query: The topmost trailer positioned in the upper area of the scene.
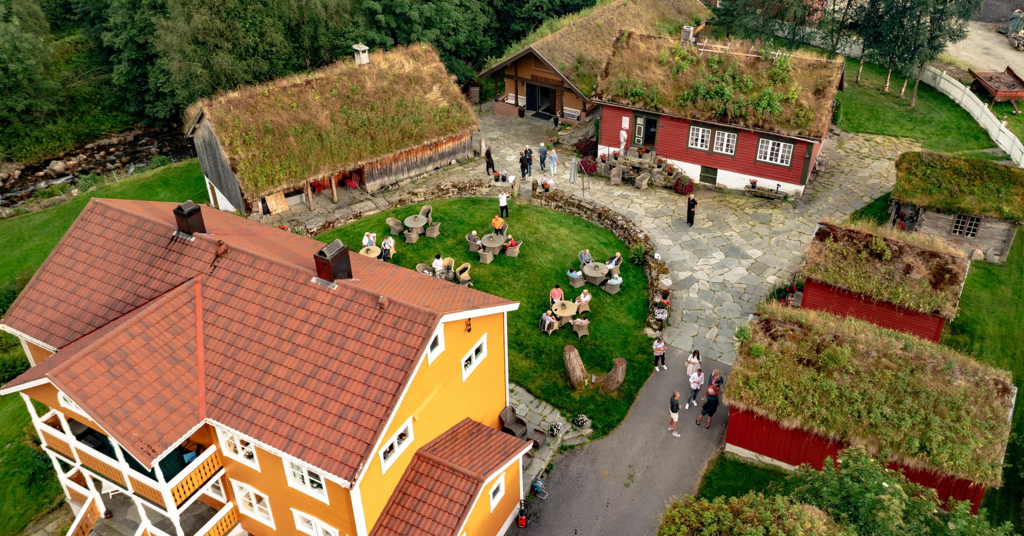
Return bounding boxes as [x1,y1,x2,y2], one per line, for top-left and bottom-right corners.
[969,64,1024,114]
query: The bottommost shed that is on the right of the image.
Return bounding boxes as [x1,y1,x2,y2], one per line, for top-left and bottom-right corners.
[723,309,1021,516]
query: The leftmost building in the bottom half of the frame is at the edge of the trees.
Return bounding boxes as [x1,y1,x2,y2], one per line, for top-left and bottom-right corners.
[0,196,533,536]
